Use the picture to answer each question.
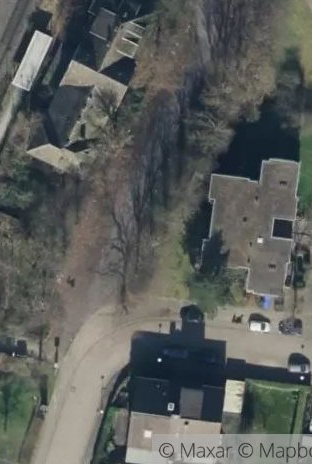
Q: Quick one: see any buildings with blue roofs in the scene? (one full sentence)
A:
No, this view has no building with a blue roof in it.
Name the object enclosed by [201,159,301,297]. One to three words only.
building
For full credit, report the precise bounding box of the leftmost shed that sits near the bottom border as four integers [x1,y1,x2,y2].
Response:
[114,408,128,446]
